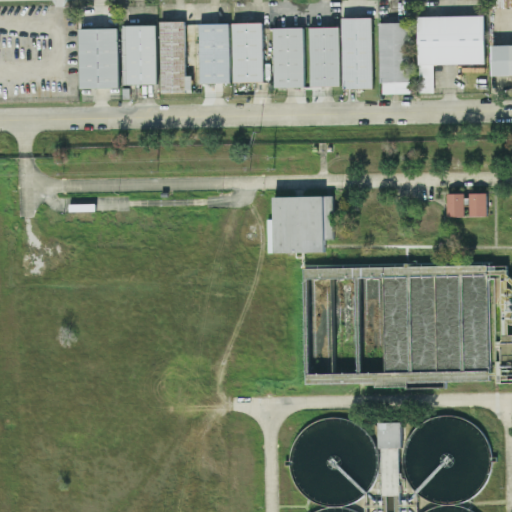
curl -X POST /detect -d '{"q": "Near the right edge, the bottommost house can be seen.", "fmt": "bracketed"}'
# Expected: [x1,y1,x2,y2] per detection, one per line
[446,194,488,218]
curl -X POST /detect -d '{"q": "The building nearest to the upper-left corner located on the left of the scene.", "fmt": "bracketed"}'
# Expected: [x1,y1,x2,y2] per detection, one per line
[78,28,120,90]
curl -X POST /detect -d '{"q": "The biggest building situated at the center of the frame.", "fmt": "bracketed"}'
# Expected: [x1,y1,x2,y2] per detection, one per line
[266,196,336,254]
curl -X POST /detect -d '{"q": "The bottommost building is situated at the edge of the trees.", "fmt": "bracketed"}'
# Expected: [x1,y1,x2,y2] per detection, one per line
[377,422,402,448]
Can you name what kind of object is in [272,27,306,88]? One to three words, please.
building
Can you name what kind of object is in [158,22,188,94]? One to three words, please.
building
